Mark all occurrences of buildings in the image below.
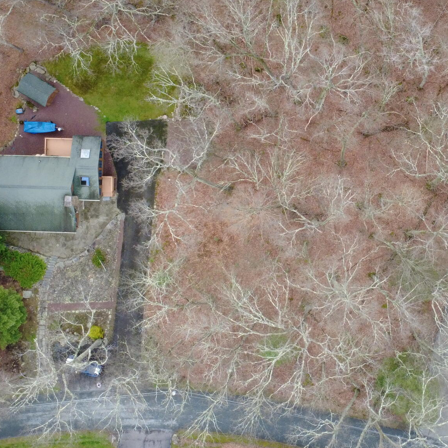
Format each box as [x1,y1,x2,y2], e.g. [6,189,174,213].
[17,73,63,106]
[0,136,122,234]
